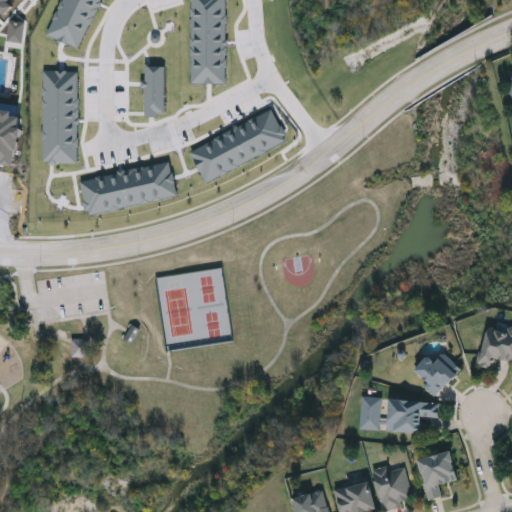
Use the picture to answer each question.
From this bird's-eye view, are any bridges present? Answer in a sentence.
Yes, looking at the shot, I can spot a bridge.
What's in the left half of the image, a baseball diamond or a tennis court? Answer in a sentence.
Visible in the left half of the image is a tennis court.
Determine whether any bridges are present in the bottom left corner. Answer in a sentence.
No, looking in the bottom left corner, there is no bridge.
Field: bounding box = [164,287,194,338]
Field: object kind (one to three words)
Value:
tennis court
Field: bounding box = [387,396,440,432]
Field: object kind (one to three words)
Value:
house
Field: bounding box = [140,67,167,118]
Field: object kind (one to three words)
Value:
building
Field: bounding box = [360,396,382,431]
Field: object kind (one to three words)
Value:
building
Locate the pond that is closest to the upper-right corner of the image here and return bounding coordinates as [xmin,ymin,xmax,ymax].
[370,188,448,286]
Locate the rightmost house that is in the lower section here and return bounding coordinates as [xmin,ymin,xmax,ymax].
[476,325,512,368]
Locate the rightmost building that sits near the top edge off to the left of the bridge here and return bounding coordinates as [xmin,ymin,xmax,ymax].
[190,0,227,86]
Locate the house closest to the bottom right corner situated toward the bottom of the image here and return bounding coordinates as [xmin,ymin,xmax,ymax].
[418,451,458,502]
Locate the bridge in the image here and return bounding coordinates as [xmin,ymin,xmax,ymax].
[404,14,496,112]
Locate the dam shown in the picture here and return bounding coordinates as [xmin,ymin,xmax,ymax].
[412,172,460,188]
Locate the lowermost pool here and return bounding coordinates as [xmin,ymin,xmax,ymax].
[420,342,443,356]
